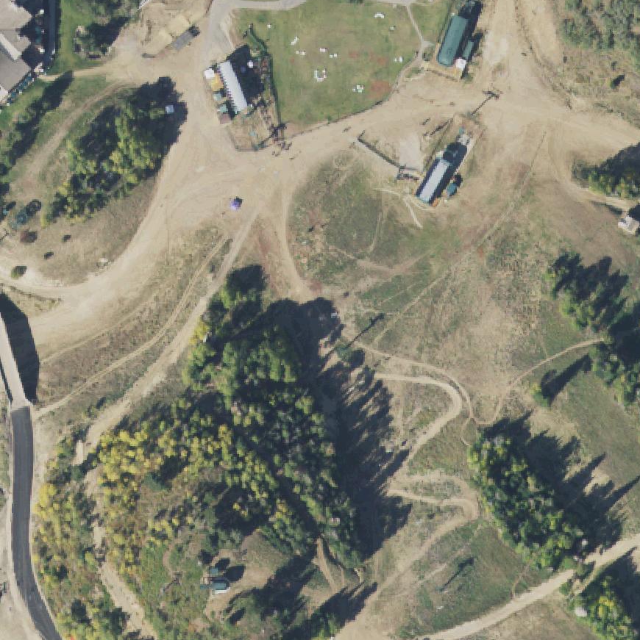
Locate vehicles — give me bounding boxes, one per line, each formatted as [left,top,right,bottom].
[174,30,196,48]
